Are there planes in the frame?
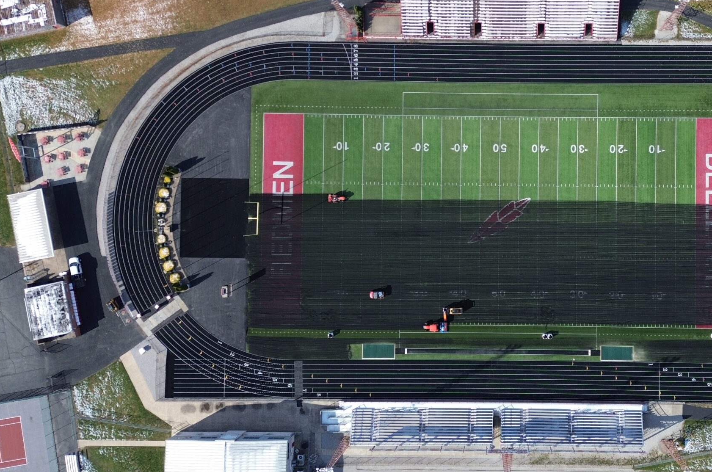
No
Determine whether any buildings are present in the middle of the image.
No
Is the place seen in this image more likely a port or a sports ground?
sports ground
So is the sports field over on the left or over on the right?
right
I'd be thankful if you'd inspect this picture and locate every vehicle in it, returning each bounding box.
[328,195,345,202]
[450,309,464,316]
[103,297,117,311]
[369,292,384,299]
[70,259,85,286]
[422,322,440,333]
